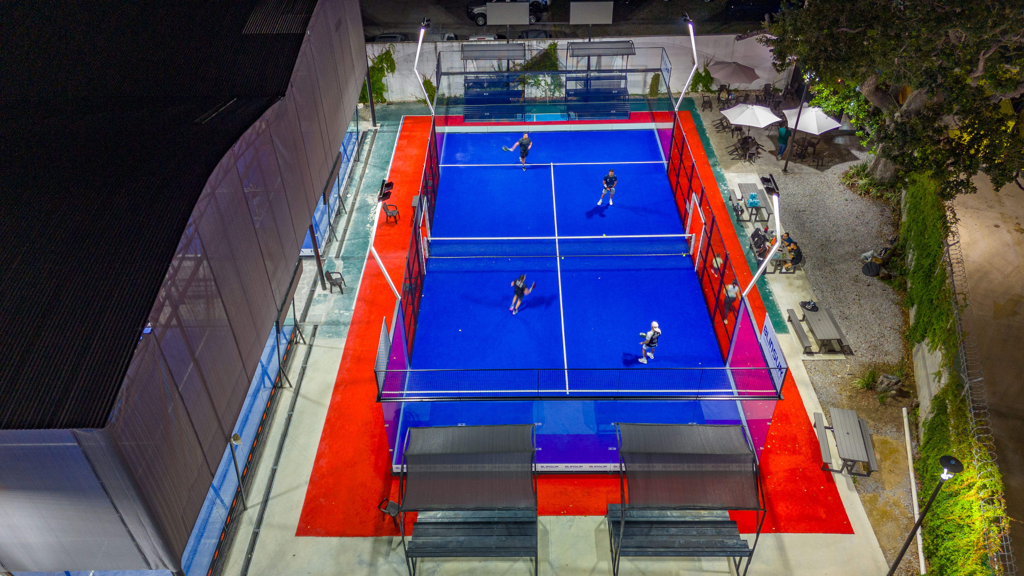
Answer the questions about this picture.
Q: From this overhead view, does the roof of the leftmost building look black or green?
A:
black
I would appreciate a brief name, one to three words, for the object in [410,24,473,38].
vehicle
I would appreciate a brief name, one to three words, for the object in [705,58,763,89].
umbrella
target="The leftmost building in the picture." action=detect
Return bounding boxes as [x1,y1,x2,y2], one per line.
[0,0,376,576]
